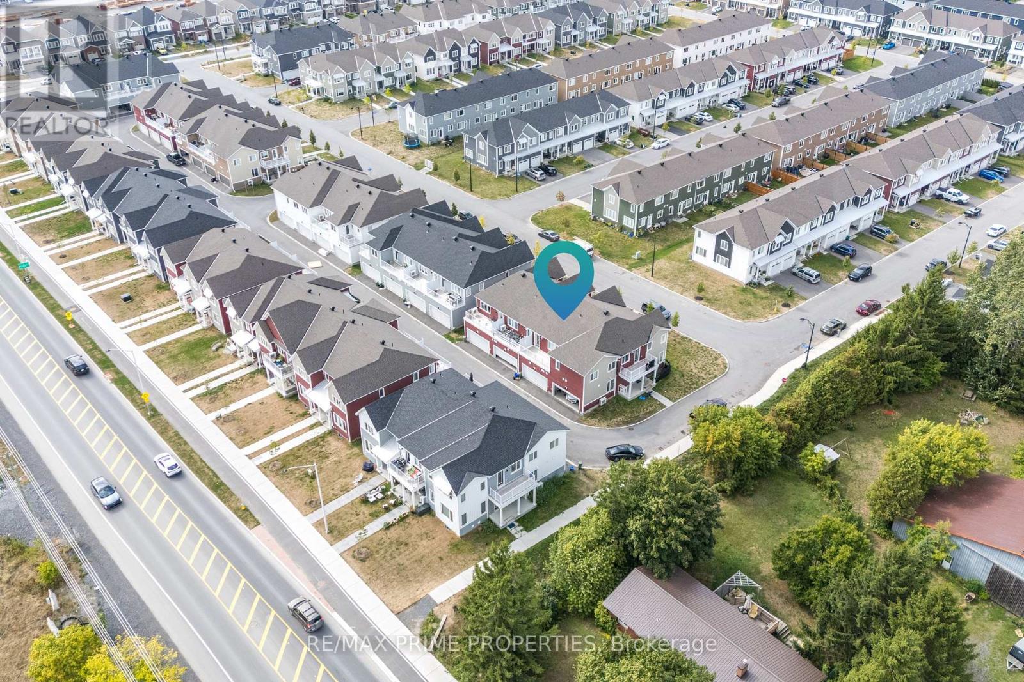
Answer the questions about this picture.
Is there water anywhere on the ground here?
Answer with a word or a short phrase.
No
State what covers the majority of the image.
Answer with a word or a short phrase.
buildings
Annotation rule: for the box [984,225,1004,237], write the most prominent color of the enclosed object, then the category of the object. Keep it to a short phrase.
white vehicle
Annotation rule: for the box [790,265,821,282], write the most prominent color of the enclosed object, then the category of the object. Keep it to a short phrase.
gray car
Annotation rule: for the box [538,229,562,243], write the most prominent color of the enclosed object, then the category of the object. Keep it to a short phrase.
gray car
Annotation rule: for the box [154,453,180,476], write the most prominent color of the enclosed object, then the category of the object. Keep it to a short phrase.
white car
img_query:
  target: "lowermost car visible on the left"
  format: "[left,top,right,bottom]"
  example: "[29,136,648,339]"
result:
[286,597,322,631]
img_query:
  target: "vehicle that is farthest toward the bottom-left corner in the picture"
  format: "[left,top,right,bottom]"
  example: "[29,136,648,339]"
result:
[94,479,123,509]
